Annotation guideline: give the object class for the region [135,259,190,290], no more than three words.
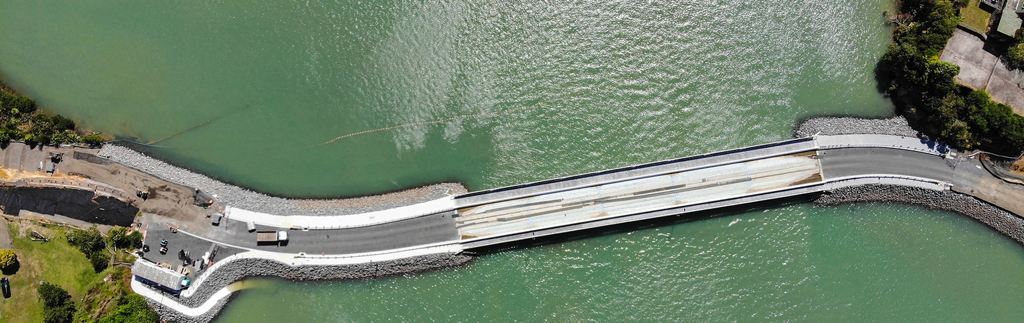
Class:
shed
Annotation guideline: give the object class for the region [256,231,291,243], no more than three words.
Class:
vehicle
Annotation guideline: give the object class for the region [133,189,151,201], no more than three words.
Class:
vehicle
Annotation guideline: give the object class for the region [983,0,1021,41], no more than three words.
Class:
house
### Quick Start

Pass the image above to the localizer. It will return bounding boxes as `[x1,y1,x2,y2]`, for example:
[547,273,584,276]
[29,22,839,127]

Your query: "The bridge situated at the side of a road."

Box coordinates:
[445,129,834,256]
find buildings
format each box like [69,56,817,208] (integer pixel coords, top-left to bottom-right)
[983,0,1021,41]
[135,259,190,290]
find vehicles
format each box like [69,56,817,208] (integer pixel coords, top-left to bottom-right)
[47,153,67,161]
[256,231,291,243]
[159,239,168,245]
[0,278,12,297]
[133,189,151,201]
[157,247,166,254]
